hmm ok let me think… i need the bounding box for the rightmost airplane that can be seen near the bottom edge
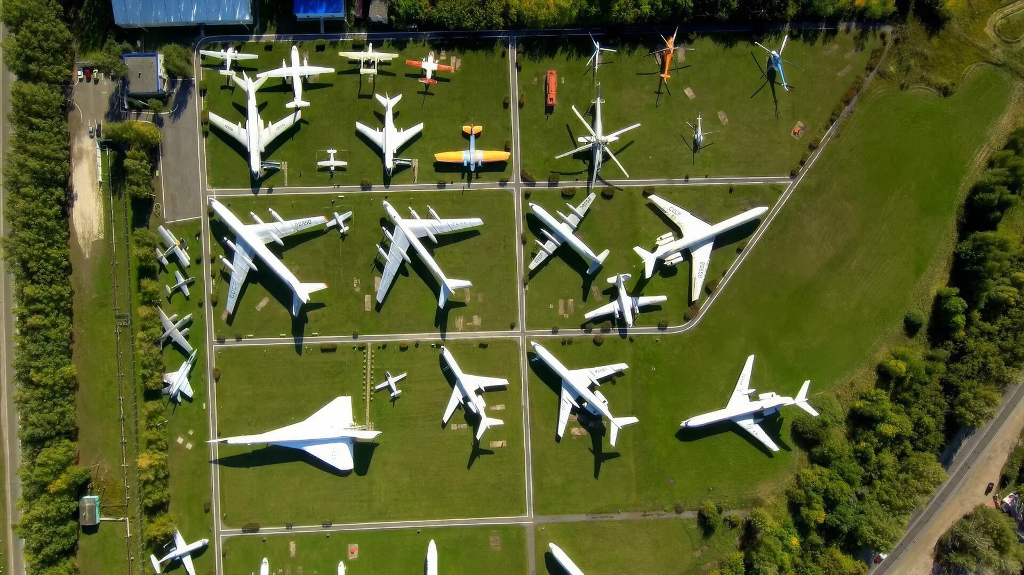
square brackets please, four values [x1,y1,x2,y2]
[549,543,583,575]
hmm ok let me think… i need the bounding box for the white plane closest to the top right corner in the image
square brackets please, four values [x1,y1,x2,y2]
[632,195,768,302]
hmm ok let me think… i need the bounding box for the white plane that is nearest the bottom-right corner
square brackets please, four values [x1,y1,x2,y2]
[680,356,818,452]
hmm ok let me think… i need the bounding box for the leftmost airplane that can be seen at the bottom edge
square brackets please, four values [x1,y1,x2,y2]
[153,521,209,575]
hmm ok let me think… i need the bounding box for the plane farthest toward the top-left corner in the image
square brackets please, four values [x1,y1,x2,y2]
[201,48,259,76]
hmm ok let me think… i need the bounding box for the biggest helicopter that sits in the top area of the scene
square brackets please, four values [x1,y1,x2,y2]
[555,82,640,186]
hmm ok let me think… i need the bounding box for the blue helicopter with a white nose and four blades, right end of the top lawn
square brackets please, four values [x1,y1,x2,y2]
[755,35,803,90]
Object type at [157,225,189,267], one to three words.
airplane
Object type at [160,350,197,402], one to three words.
airplane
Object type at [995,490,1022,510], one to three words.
house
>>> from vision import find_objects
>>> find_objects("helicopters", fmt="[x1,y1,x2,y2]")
[555,82,640,186]
[755,35,803,90]
[687,115,718,154]
[643,27,694,85]
[587,32,617,72]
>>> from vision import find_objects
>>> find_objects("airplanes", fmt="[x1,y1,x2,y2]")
[632,195,768,302]
[425,539,439,575]
[201,48,259,76]
[407,52,453,84]
[585,273,667,327]
[251,557,279,575]
[339,44,399,76]
[207,394,379,470]
[165,271,196,297]
[210,198,326,321]
[257,46,335,106]
[434,124,510,171]
[338,561,345,575]
[356,89,423,175]
[207,69,299,179]
[529,193,610,274]
[549,543,583,575]
[160,350,197,402]
[153,521,209,575]
[531,341,639,448]
[442,346,509,440]
[374,371,407,396]
[371,201,485,309]
[151,306,193,352]
[325,212,352,234]
[680,356,818,452]
[157,225,189,267]
[317,148,347,171]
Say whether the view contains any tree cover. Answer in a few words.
Yes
